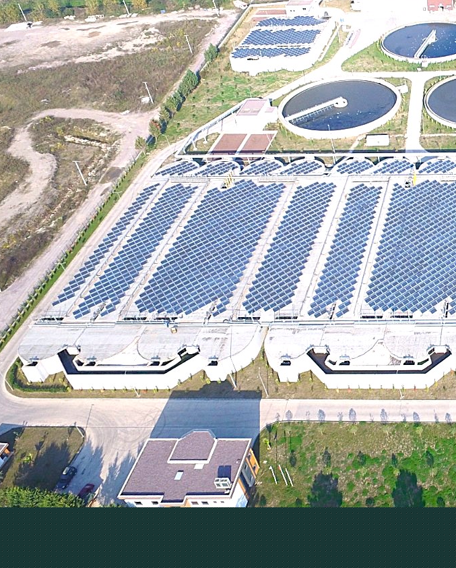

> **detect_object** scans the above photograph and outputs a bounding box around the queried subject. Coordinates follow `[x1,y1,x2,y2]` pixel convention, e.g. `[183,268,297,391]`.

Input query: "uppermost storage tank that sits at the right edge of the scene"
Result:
[380,22,456,64]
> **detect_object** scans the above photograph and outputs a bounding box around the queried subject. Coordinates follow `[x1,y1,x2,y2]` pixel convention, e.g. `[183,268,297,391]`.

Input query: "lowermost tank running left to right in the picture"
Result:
[279,78,402,139]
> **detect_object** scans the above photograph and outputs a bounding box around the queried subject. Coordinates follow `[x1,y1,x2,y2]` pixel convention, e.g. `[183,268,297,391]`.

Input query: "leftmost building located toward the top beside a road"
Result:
[234,100,281,130]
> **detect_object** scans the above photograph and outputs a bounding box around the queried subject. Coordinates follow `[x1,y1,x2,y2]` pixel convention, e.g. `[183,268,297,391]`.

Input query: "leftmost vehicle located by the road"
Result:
[51,462,80,487]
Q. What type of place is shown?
industrial area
